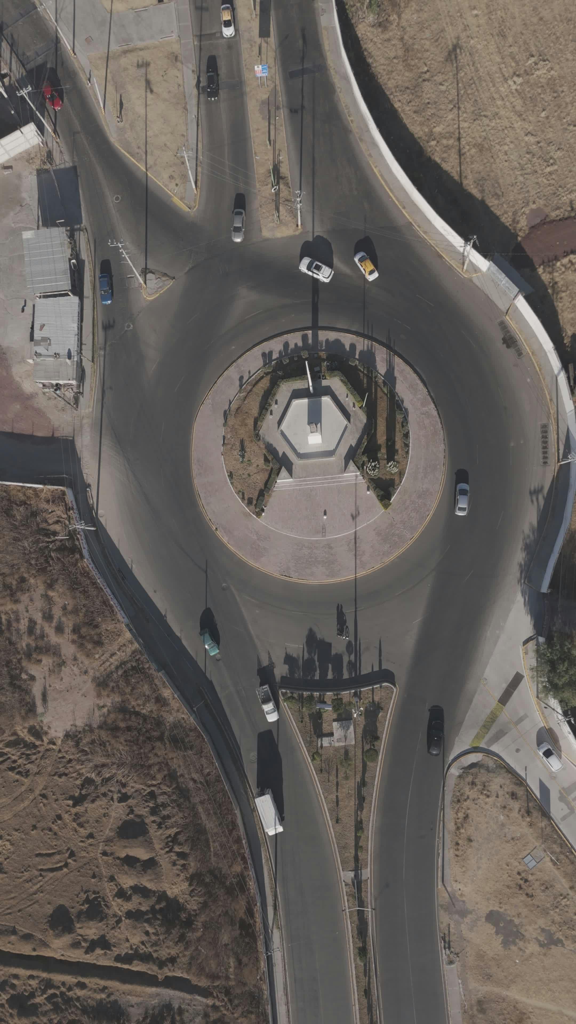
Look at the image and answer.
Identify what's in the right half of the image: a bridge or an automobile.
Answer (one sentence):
You can see an automobile in the right half of the image.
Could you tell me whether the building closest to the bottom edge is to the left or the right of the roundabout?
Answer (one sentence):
To the left of the roundabout is where the building closest to the bottom edge appears.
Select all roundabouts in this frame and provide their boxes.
[189,325,449,585]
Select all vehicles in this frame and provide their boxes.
[42,79,63,112]
[255,784,284,834]
[199,626,220,656]
[220,5,236,41]
[537,741,564,773]
[230,208,246,243]
[257,684,279,722]
[205,69,220,102]
[298,258,334,283]
[454,483,471,515]
[356,251,379,282]
[98,273,114,306]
